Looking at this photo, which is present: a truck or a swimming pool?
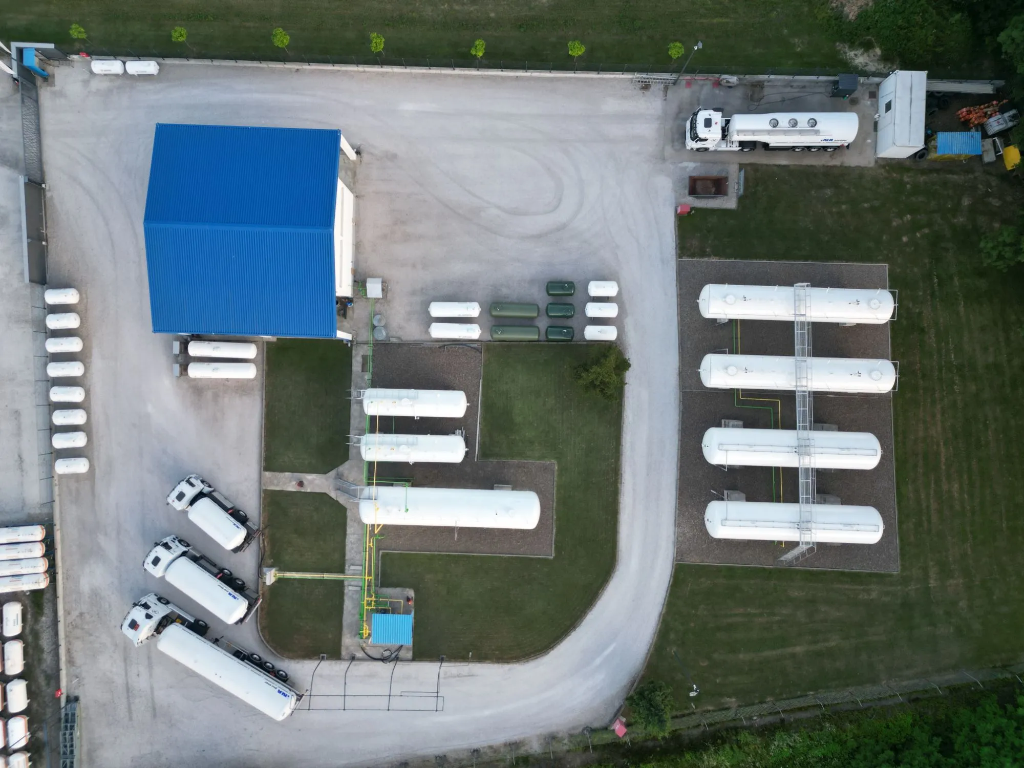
truck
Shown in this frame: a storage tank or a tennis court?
storage tank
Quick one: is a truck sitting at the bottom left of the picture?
Yes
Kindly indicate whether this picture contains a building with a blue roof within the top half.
Yes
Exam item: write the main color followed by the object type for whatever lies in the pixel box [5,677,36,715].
white storage tank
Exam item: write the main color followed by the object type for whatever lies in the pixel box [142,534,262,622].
white truck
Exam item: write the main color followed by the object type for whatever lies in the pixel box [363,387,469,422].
white storage tank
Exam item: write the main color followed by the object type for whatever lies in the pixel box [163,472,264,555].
white truck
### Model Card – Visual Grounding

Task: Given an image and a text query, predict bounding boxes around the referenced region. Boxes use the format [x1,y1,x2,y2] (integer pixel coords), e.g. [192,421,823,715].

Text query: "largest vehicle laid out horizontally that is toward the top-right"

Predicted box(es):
[683,107,862,153]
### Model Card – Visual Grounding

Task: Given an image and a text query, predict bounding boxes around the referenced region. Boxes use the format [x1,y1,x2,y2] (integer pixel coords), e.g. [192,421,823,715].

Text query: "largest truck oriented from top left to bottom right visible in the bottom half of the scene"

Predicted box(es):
[121,591,312,722]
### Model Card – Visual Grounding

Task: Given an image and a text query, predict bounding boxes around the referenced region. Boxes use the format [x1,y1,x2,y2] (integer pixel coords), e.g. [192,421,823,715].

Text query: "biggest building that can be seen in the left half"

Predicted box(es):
[142,122,357,342]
